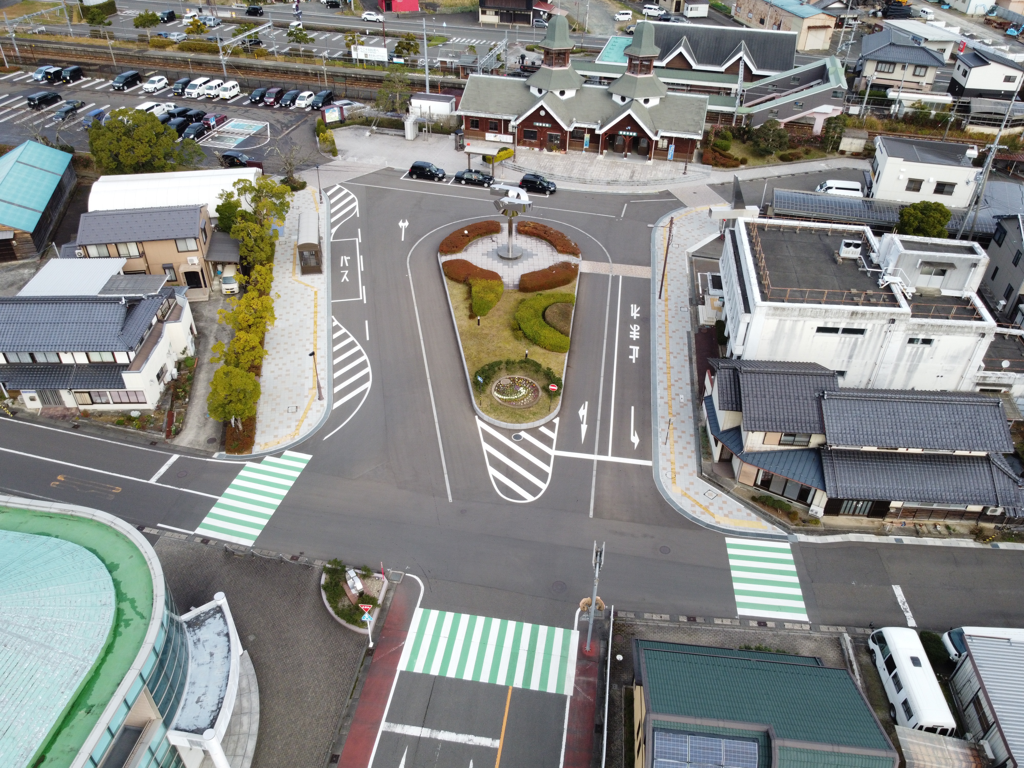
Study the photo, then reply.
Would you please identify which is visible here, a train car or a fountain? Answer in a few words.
train car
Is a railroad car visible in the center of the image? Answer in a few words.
No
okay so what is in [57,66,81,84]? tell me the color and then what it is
black car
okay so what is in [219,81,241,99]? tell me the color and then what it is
white car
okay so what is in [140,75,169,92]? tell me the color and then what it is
white car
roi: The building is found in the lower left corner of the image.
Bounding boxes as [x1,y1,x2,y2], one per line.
[0,496,193,768]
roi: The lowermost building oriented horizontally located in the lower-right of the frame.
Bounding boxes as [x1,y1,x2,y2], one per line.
[627,631,907,768]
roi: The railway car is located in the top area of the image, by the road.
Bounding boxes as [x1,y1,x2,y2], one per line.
[515,49,543,78]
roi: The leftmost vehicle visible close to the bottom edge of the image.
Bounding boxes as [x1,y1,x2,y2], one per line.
[870,631,959,738]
